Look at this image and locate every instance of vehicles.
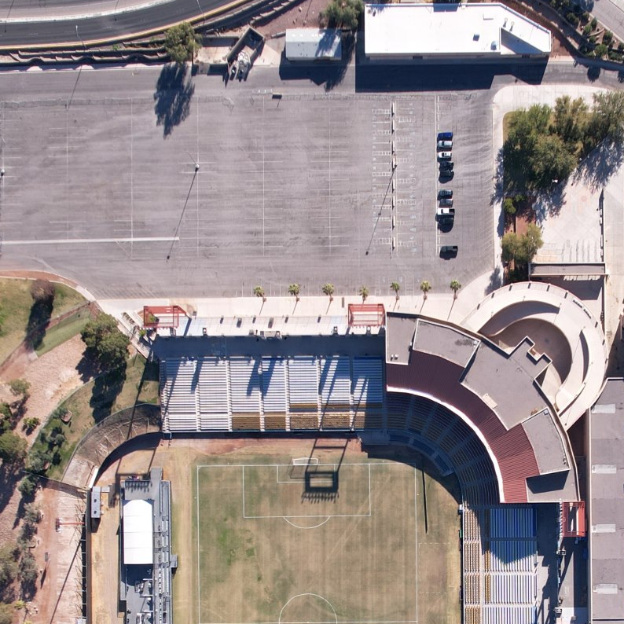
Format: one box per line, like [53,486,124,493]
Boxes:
[437,152,452,159]
[440,169,455,177]
[439,199,454,206]
[437,140,452,149]
[437,208,455,215]
[437,132,452,139]
[441,248,458,254]
[440,216,454,223]
[440,162,454,169]
[439,190,454,197]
